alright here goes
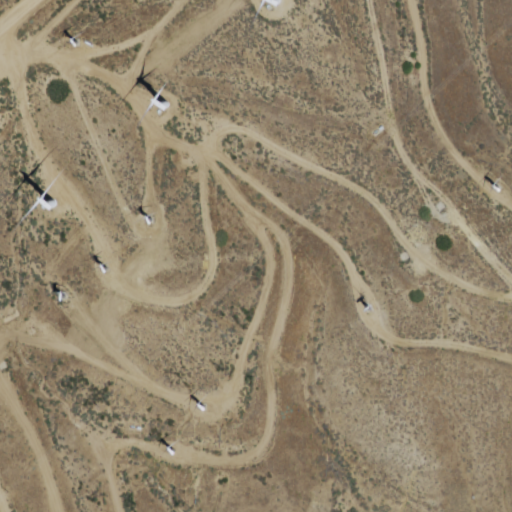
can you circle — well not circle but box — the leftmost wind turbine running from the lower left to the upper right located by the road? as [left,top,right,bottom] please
[23,169,64,222]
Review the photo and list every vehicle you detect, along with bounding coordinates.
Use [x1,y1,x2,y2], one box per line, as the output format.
[130,424,142,431]
[84,40,94,47]
[373,124,386,134]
